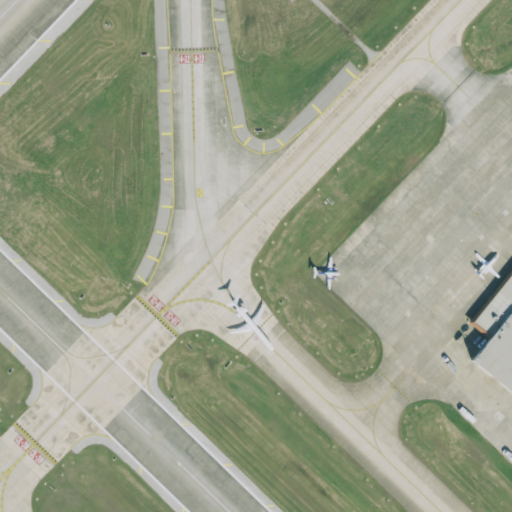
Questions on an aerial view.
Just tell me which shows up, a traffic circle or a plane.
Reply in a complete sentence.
This aerial view contains a plane.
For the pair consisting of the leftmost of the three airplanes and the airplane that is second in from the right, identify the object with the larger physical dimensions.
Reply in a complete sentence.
The leftmost of the three airplanes covers a greater area than the airplane that is second in from the right.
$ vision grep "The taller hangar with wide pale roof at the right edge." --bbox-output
[473,314,512,394]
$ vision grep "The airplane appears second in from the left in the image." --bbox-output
[312,257,340,290]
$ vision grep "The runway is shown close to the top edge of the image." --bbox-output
[0,0,92,84]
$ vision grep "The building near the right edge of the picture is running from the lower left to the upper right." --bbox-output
[472,275,512,338]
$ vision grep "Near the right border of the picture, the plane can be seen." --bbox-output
[475,253,500,279]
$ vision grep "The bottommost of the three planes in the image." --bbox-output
[226,294,273,350]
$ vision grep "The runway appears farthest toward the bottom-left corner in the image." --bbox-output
[0,249,275,512]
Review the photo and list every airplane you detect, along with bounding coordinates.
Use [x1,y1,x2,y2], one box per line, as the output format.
[312,257,340,290]
[475,253,500,279]
[226,294,273,350]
